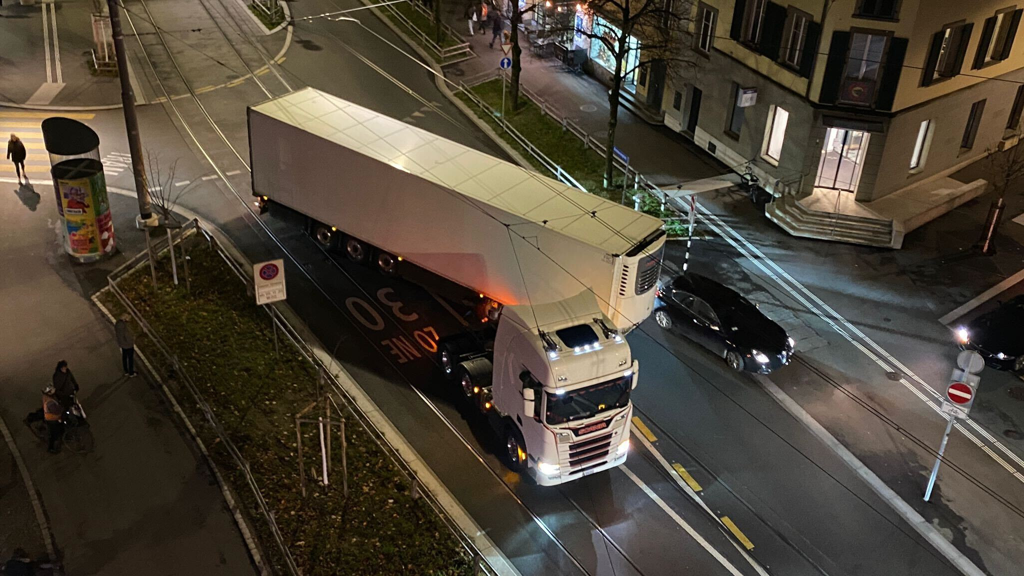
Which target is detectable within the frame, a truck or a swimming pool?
truck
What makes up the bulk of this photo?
paved ground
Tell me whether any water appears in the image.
No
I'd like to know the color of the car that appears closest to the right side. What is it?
black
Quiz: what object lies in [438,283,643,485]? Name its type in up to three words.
truck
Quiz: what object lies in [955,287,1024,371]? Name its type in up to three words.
car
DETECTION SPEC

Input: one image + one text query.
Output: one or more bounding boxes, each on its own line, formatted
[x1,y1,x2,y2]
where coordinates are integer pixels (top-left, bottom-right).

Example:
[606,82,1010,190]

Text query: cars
[955,287,1024,371]
[658,273,800,373]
